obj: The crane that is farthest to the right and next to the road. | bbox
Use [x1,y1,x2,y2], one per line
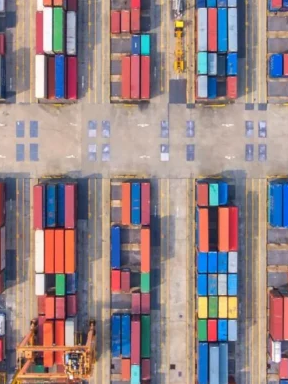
[17,319,98,382]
